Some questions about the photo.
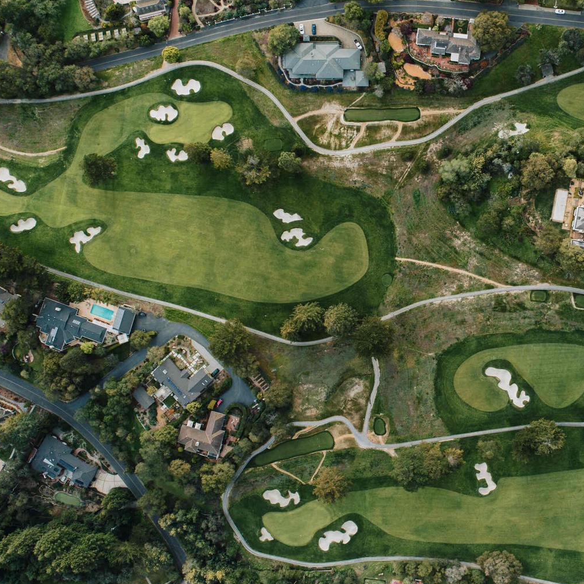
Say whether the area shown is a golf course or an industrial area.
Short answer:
golf course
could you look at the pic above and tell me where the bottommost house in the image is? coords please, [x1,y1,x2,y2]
[28,434,101,485]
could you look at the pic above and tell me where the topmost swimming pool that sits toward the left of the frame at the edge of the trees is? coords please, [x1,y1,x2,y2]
[89,303,115,321]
